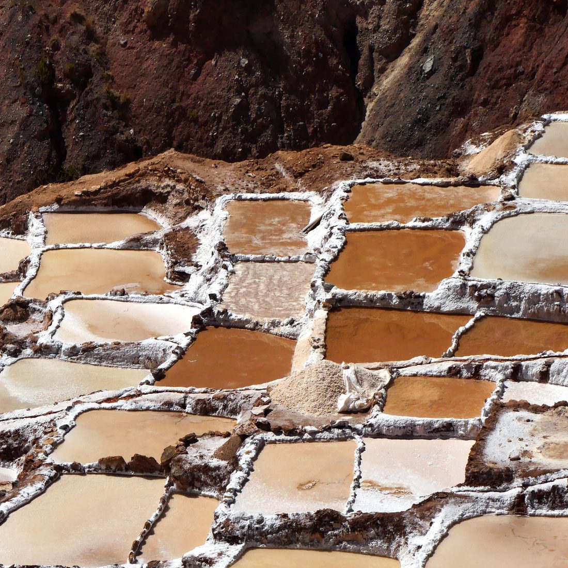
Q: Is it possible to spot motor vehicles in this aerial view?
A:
No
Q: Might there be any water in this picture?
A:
Yes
